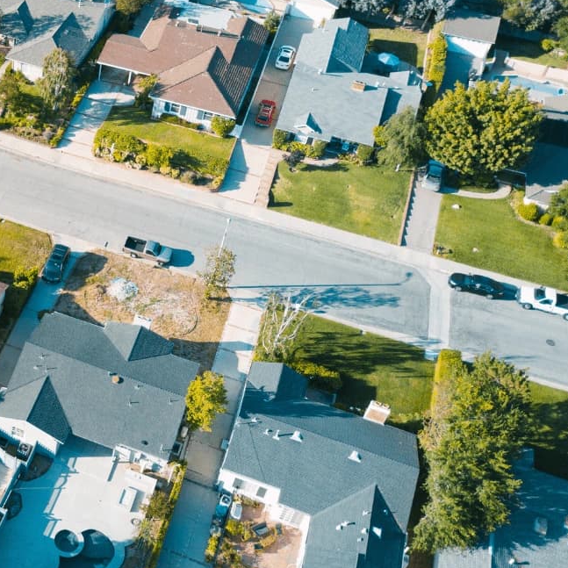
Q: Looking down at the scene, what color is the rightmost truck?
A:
white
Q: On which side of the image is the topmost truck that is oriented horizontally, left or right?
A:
left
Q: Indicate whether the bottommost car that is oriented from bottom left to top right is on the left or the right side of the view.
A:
left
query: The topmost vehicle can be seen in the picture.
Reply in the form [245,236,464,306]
[273,43,297,71]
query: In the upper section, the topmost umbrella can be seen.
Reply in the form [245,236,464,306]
[377,56,399,76]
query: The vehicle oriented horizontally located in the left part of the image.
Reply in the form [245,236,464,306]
[119,235,176,267]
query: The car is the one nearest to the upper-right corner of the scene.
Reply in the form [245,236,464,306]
[419,153,447,193]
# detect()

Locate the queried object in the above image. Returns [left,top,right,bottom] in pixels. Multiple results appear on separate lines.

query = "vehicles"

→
[254,97,279,129]
[419,153,447,193]
[520,289,568,321]
[37,241,74,286]
[119,235,176,267]
[273,43,297,71]
[449,276,506,303]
